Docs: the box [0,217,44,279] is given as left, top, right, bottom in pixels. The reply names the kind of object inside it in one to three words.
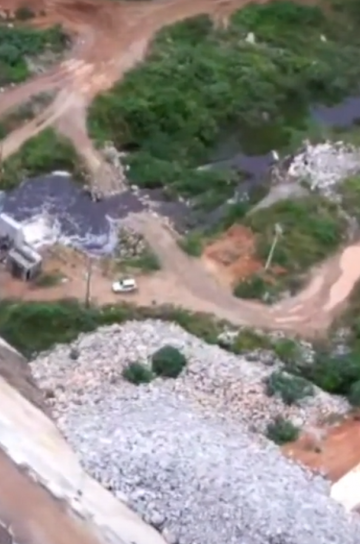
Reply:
building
